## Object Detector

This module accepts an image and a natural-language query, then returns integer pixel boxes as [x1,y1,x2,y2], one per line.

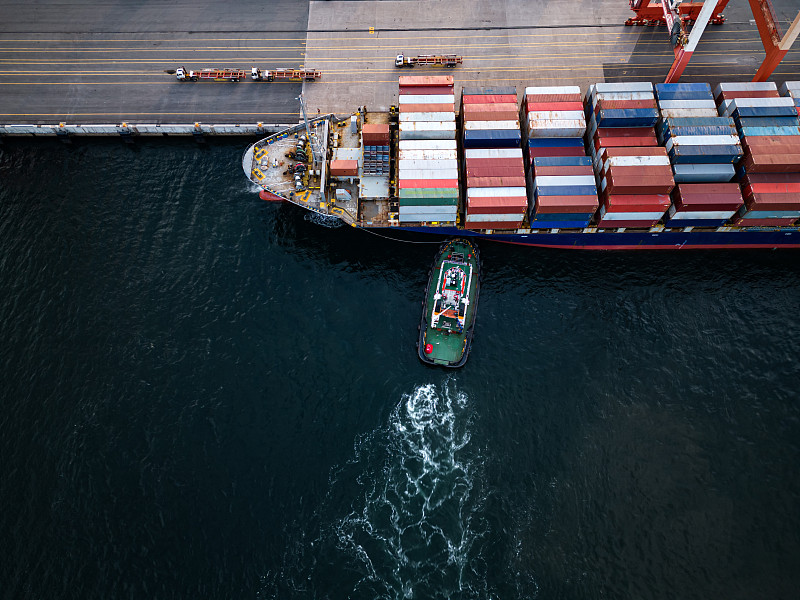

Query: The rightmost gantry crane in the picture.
[616,0,800,89]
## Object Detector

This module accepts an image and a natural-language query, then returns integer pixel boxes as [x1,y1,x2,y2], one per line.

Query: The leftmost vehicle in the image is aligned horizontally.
[173,66,245,82]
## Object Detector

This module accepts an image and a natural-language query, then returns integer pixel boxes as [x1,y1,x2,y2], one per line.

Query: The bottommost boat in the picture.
[416,237,481,371]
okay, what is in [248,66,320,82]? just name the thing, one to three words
vehicle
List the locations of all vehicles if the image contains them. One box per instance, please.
[395,52,464,69]
[248,66,320,82]
[173,66,245,82]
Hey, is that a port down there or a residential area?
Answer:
port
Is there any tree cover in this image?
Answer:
No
